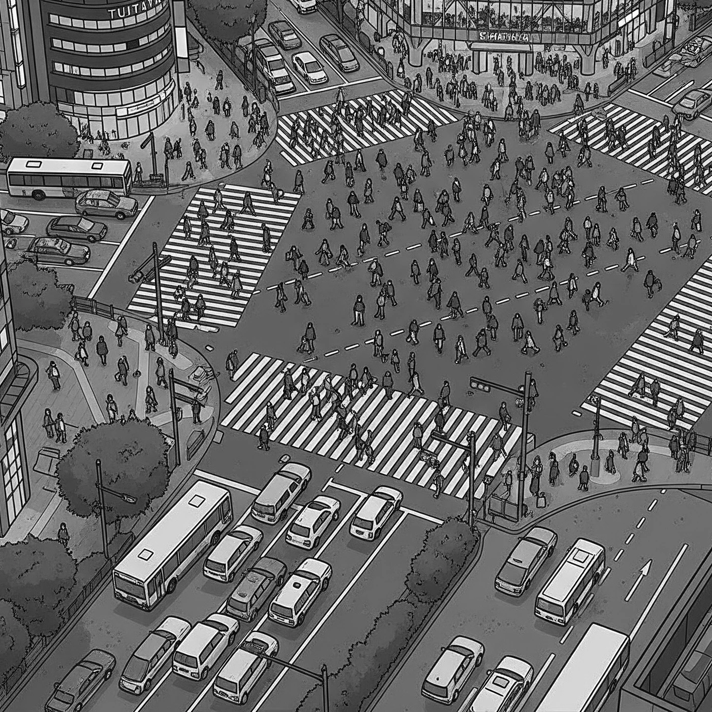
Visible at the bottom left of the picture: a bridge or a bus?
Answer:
bus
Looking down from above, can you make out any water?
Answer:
No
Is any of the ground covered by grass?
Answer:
No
